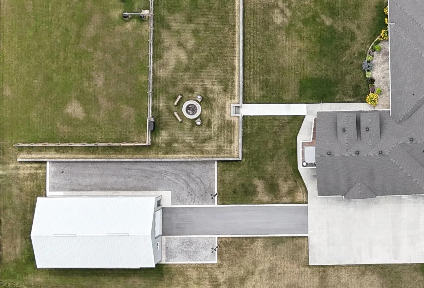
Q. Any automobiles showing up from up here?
No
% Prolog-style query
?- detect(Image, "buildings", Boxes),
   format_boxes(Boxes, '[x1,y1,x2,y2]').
[315,0,424,200]
[33,194,164,270]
